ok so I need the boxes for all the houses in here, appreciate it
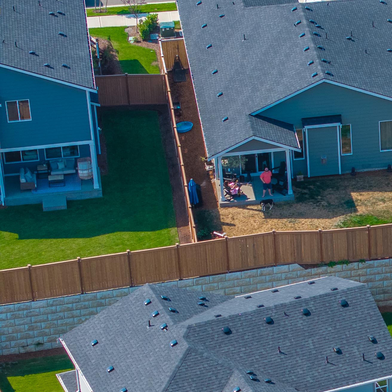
[52,276,392,392]
[0,0,102,209]
[176,0,392,206]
